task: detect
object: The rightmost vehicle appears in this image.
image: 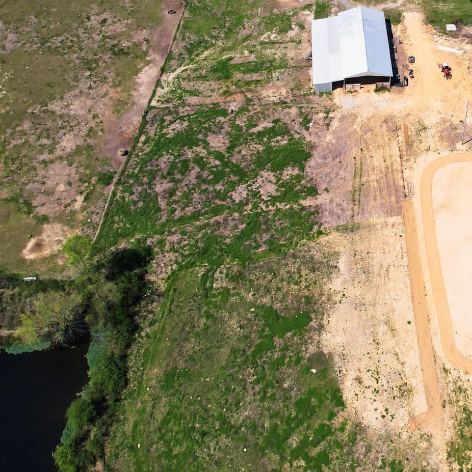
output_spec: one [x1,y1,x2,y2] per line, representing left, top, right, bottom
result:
[436,61,454,80]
